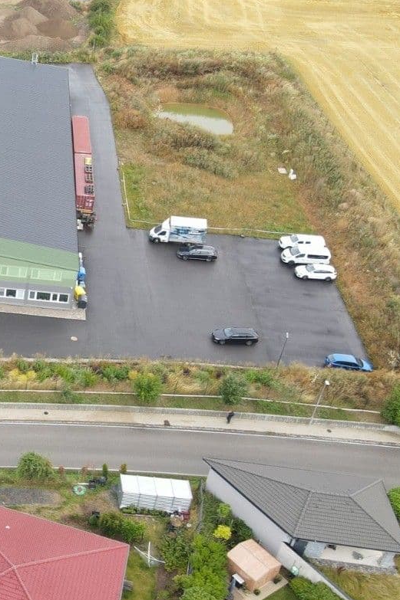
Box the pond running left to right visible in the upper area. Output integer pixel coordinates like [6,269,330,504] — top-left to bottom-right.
[154,103,236,135]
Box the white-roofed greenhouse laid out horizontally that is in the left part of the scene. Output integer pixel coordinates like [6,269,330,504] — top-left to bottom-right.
[116,474,193,514]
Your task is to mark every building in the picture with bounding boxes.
[226,540,280,593]
[0,507,131,600]
[202,457,400,574]
[0,55,83,309]
[116,474,193,514]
